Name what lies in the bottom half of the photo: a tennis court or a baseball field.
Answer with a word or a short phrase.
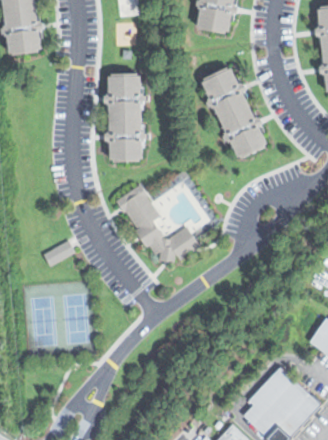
tennis court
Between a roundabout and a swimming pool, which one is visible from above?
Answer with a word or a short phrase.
swimming pool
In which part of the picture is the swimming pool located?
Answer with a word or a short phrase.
center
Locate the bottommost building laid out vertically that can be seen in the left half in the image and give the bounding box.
[105,74,146,162]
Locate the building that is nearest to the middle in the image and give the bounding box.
[118,184,198,264]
